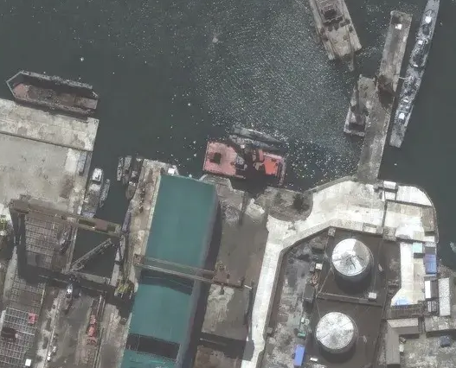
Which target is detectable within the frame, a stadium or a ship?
ship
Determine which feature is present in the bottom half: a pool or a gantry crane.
gantry crane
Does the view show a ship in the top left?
Yes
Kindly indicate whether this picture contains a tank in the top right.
No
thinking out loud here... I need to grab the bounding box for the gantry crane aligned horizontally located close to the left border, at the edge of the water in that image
[7,196,131,268]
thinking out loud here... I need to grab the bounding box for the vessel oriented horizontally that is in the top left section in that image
[6,70,101,118]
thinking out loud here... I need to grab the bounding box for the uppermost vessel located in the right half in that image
[309,0,362,71]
